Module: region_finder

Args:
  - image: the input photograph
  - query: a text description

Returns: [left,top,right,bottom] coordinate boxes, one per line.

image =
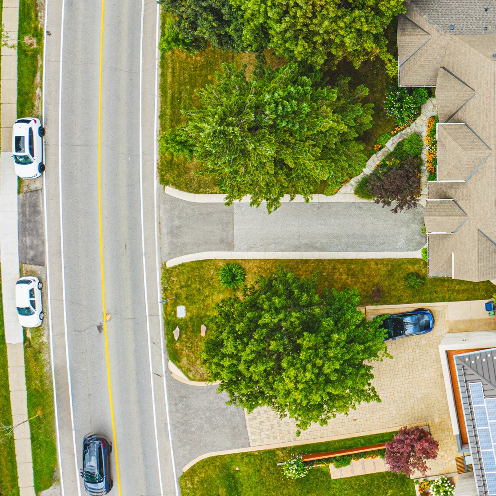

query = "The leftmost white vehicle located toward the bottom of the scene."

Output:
[15,276,49,328]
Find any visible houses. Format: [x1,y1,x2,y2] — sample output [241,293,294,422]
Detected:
[397,0,496,282]
[438,330,496,496]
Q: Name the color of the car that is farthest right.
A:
blue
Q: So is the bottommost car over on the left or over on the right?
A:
left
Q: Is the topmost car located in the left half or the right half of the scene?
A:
left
